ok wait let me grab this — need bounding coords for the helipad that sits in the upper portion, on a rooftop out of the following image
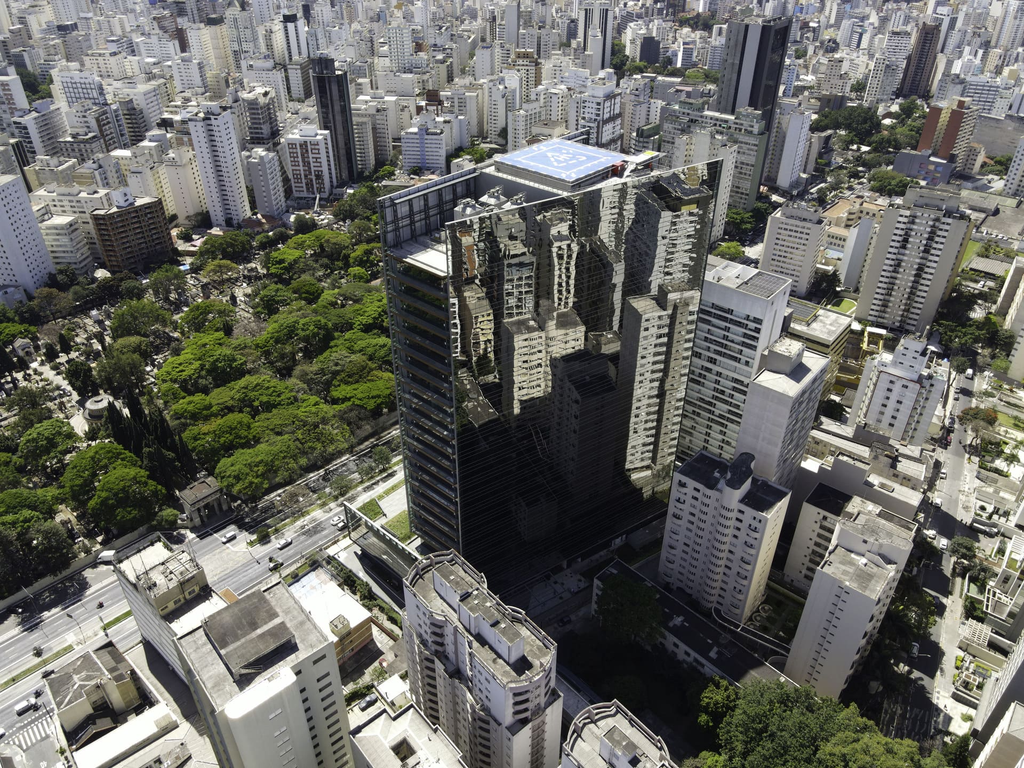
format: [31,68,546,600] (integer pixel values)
[494,137,627,190]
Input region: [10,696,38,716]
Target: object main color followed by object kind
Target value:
white vehicle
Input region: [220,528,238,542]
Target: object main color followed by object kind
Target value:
white car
